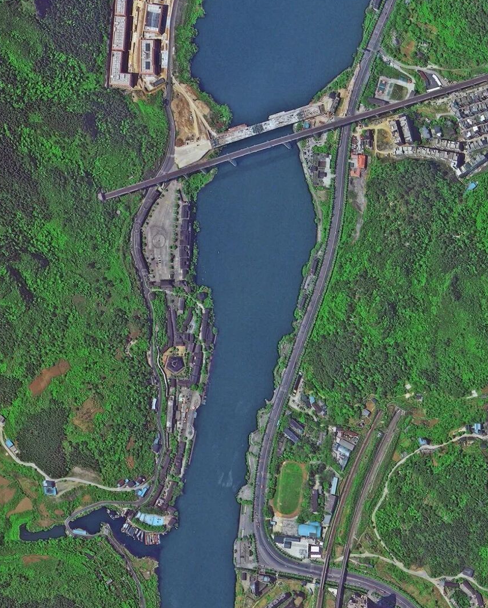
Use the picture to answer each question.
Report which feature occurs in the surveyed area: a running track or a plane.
running track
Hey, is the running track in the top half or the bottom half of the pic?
bottom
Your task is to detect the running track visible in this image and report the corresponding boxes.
[275,461,309,517]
